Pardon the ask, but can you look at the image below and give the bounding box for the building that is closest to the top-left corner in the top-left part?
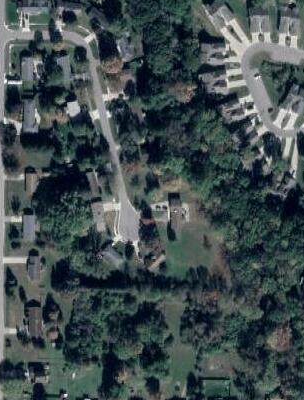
[19,0,49,16]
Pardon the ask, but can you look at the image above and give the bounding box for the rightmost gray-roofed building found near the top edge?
[280,7,300,37]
